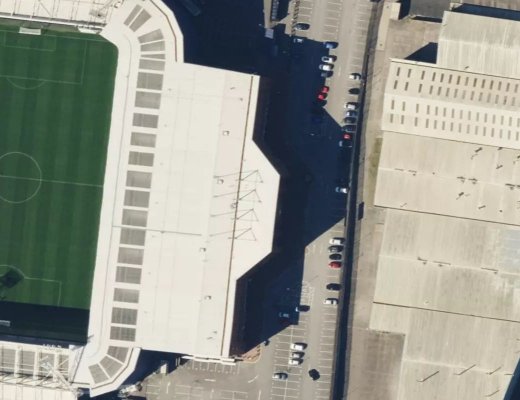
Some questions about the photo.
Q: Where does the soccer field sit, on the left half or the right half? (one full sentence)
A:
You can find the soccer field on the left side of the picture.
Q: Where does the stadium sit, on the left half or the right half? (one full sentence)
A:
It is on the left.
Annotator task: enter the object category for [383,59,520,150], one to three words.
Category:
building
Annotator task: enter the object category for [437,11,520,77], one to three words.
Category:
building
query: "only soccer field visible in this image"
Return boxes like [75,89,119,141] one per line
[0,14,118,349]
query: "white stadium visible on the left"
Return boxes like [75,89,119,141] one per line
[0,0,289,400]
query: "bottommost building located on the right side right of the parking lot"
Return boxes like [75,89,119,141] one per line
[370,302,520,400]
